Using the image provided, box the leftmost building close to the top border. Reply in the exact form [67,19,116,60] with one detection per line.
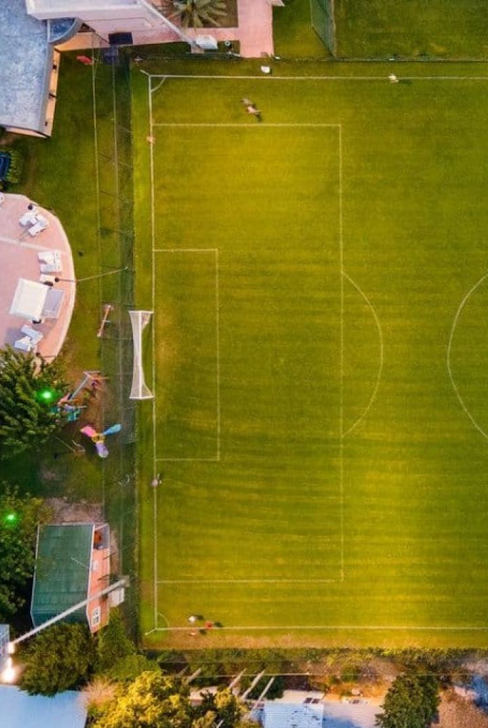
[0,0,99,137]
